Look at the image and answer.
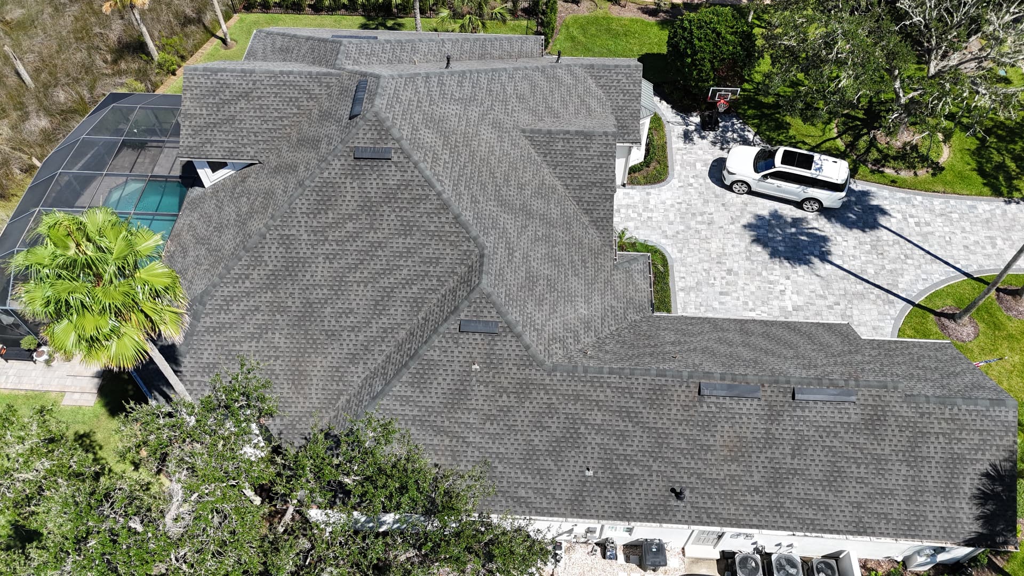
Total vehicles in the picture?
1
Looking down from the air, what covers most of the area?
buildings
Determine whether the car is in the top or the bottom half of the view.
top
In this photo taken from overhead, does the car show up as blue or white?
white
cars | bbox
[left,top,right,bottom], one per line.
[723,148,854,212]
